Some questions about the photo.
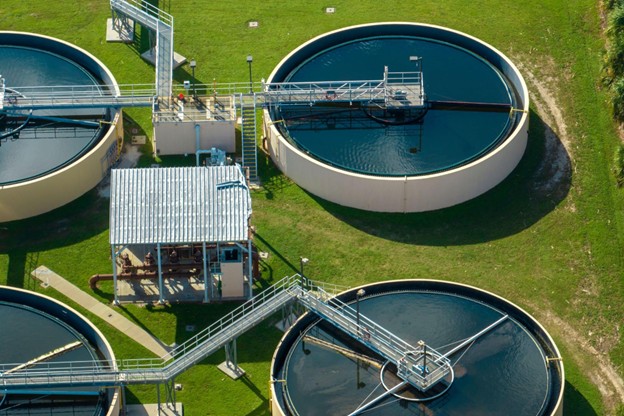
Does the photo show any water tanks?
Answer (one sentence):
Yes, there's a water tank here.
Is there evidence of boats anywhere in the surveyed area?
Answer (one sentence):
No, there's no boat here.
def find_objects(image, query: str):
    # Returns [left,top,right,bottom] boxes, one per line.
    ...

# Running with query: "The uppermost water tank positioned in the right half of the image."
[264,22,528,214]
